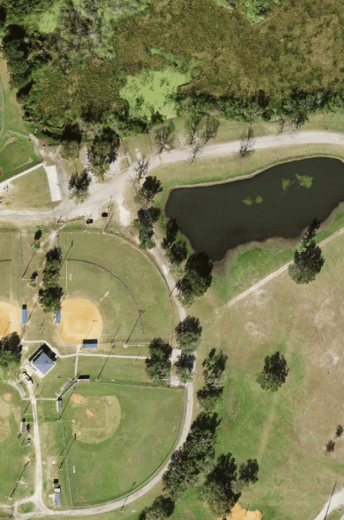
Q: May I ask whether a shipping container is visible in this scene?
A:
No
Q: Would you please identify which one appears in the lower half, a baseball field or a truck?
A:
baseball field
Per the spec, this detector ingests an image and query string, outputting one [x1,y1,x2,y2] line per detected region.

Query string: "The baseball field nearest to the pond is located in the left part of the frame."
[57,230,171,345]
